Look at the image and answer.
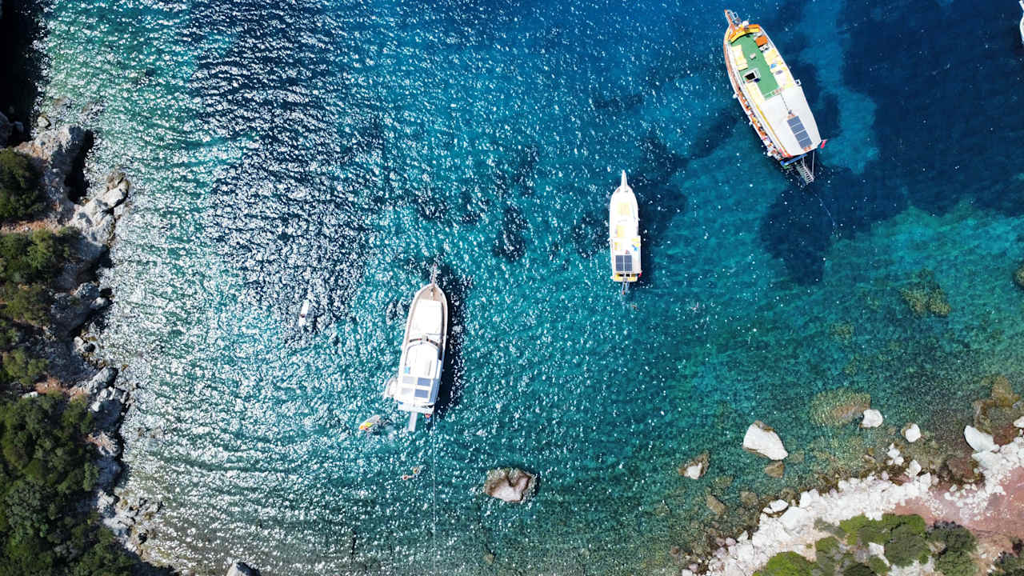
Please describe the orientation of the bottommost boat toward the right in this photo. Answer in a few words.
vertically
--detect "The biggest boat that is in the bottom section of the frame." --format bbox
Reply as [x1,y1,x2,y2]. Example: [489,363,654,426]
[395,265,448,436]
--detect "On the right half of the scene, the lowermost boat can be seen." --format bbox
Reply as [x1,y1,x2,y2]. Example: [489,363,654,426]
[607,170,642,294]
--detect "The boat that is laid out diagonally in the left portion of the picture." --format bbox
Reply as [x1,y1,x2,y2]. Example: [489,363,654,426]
[359,415,380,431]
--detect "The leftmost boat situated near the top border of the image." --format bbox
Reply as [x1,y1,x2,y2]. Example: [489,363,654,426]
[723,6,830,184]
